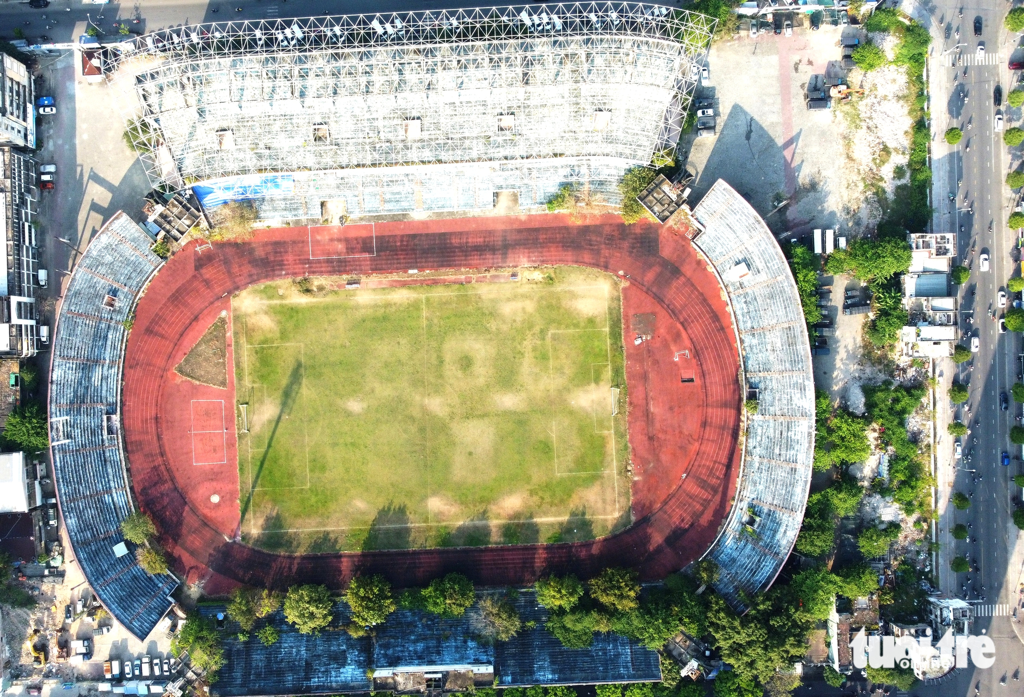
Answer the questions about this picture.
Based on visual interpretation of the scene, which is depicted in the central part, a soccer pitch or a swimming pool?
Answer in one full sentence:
What appears in the central part is a soccer pitch.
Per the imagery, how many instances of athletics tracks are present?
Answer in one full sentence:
My tally gives 1 athletics track in this photo.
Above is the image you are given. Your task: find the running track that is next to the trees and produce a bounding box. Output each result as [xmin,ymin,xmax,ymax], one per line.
[124,211,742,597]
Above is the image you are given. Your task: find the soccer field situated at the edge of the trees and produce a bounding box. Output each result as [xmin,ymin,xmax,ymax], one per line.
[232,264,634,555]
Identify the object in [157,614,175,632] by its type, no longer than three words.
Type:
vehicle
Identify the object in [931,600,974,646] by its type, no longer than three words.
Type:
house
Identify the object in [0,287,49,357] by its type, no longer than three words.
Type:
building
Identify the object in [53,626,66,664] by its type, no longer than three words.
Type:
vehicle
